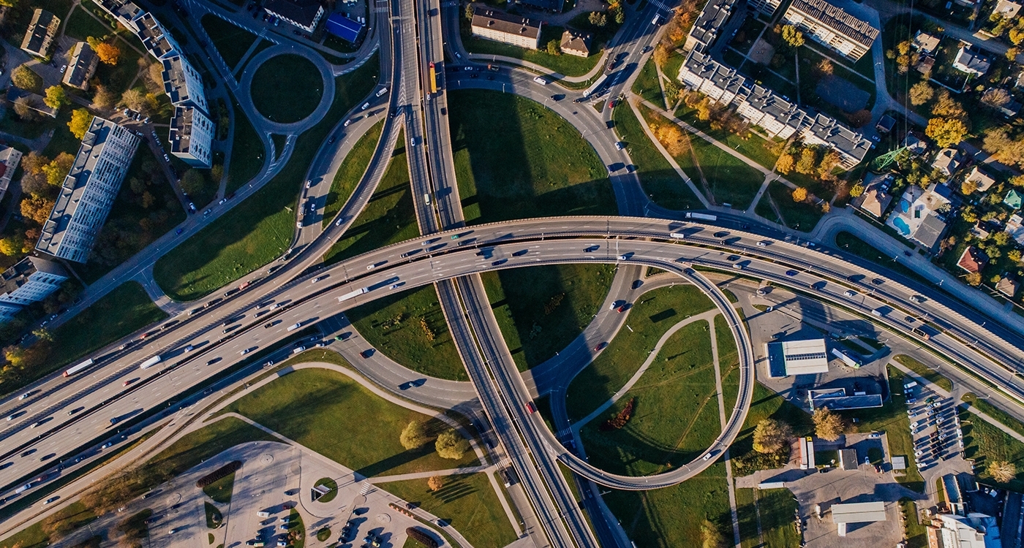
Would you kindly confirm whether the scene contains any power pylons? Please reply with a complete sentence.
Yes, a power pylon is visible in the scene.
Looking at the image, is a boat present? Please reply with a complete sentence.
No, I can see no boat in this picture.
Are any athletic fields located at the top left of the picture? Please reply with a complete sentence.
No, I see no athletic field at the top left of the picture.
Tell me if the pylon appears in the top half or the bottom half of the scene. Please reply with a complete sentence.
Seen from above, the pylon lies in the top half of the view.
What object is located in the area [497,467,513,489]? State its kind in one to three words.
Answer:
vehicle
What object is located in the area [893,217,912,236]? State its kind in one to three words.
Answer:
swimming pool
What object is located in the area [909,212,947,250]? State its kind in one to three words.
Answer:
house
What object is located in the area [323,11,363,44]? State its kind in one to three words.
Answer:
building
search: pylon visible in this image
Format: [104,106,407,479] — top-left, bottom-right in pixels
[864,146,910,174]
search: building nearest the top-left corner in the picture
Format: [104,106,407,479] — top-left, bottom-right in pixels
[19,8,63,58]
